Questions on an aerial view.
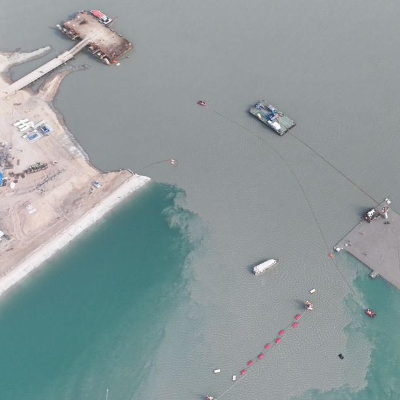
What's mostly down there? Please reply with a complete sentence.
The scene is dominated by water.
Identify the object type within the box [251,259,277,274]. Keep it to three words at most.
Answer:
boat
